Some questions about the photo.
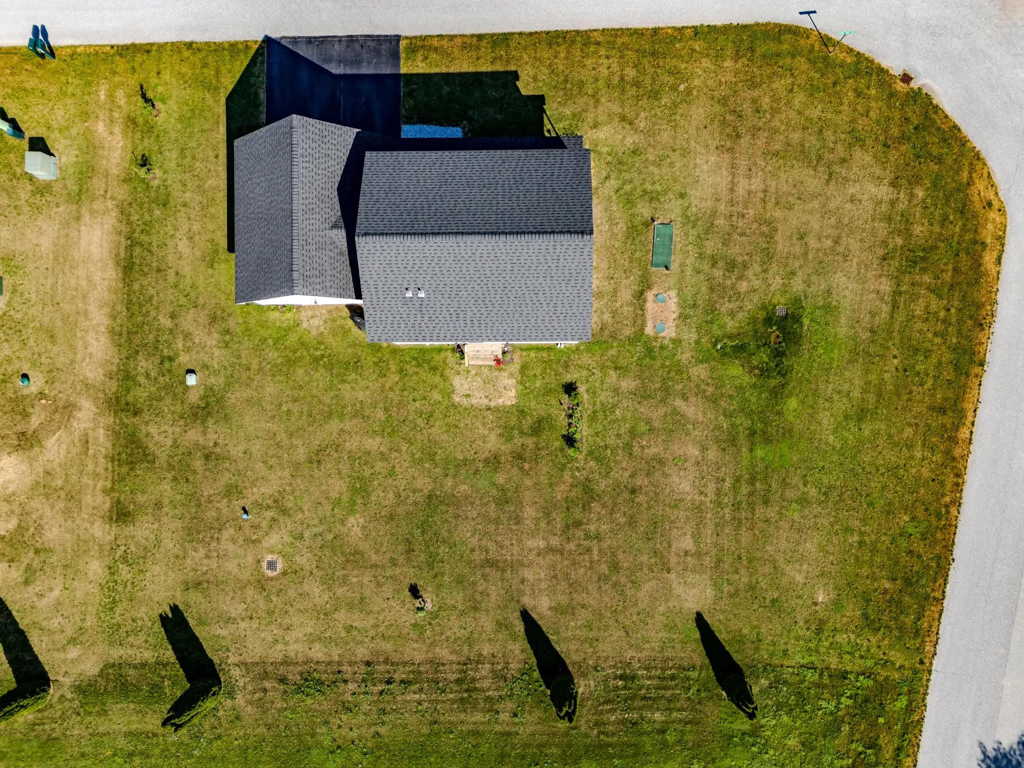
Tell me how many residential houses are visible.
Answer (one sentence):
There is 1 residential house in the image.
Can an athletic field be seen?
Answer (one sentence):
No, no athletic field is visible in the scene.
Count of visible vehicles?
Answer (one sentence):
There are no vehicles in the image.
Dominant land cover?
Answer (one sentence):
The largest share of the image is taken up by grass.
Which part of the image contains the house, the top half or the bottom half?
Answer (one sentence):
Seen from above, the house lies in the top half of the view.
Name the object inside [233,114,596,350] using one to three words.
house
